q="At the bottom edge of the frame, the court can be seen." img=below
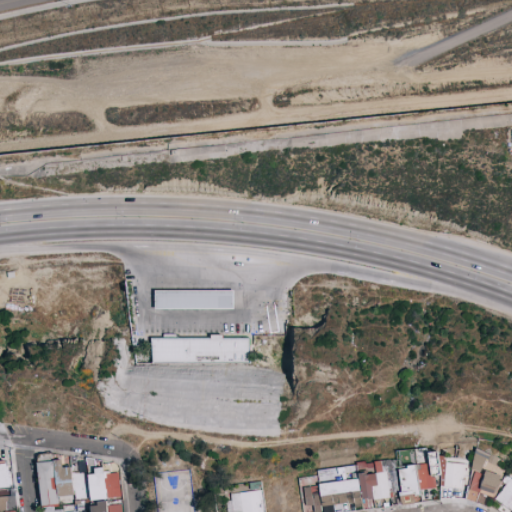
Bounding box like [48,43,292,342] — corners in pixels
[155,470,194,512]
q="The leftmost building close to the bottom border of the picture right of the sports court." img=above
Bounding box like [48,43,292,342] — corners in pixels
[228,480,264,512]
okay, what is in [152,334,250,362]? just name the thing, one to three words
building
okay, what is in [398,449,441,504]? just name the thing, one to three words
house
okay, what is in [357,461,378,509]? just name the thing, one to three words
house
